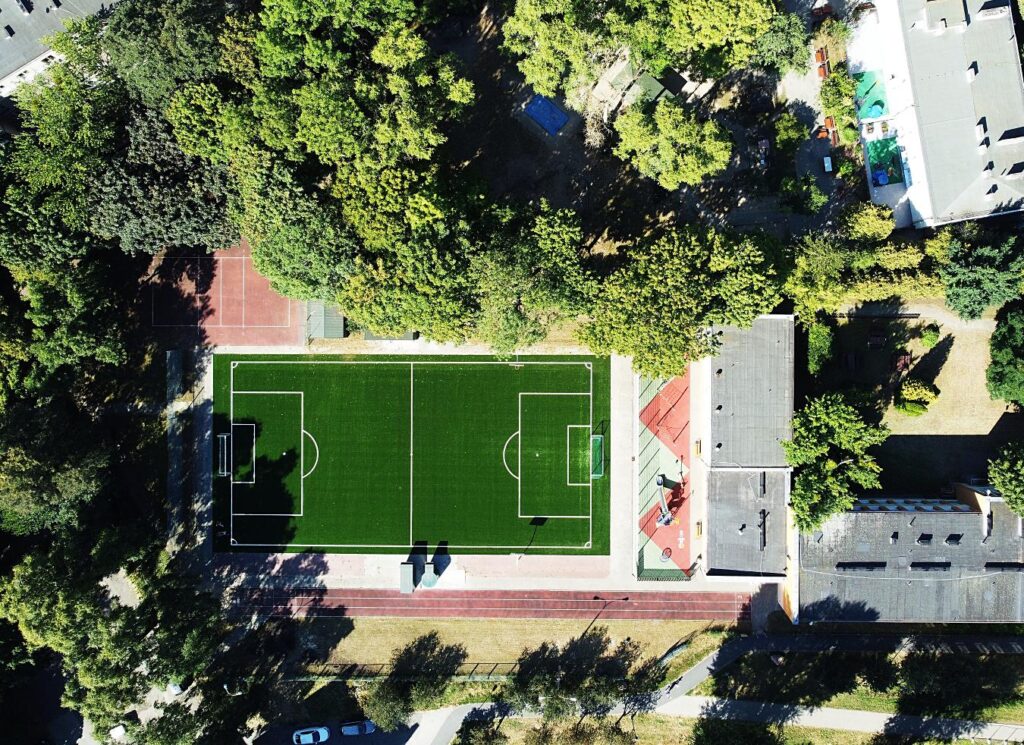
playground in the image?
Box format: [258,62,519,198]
[640,350,690,577]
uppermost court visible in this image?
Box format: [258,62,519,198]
[148,232,310,346]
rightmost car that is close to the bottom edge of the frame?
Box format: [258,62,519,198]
[340,717,377,739]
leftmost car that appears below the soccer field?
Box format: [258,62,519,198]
[292,725,330,745]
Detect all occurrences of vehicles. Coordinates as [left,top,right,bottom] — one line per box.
[340,717,377,739]
[292,725,330,745]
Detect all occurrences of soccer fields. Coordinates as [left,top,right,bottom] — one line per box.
[212,354,610,556]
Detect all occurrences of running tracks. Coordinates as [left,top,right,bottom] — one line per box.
[226,588,753,621]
